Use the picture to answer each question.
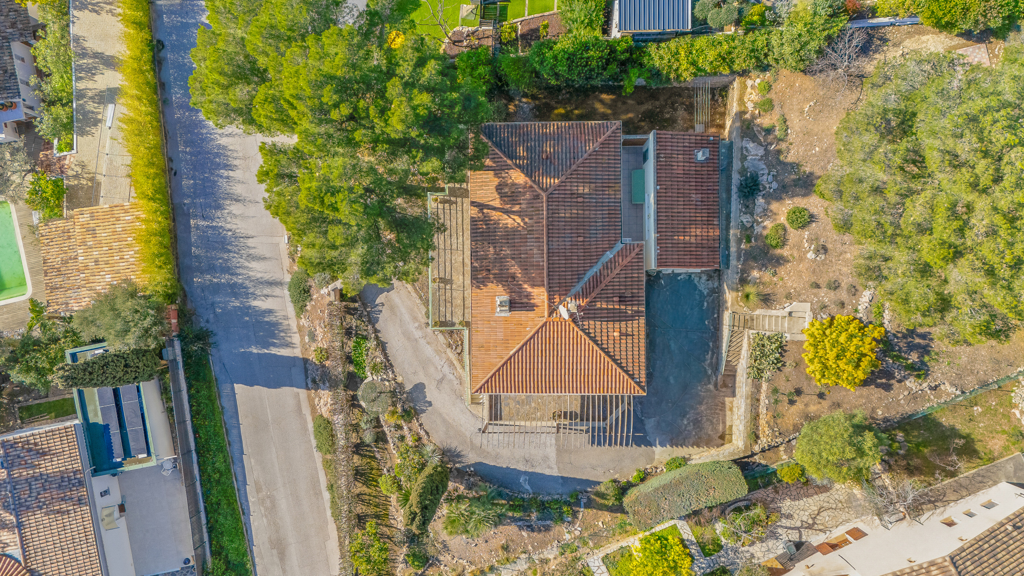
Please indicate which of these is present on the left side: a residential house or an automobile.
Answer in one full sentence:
Looking on the left side, you will find a residential house.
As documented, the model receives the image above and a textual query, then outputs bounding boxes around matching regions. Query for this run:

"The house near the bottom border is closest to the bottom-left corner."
[0,418,141,576]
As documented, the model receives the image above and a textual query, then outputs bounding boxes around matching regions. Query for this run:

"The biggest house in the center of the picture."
[468,119,648,397]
